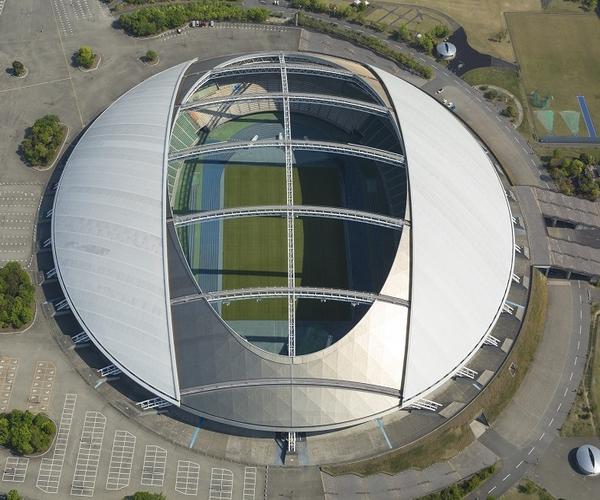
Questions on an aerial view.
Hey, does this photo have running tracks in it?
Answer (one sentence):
Yes, the picture does show a running track.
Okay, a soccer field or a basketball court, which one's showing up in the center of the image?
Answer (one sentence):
It is a soccer field that can be seen in the center of the image.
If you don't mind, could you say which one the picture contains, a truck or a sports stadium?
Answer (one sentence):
It is a sports stadium that can be seen here.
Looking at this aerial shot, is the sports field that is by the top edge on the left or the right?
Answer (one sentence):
The sports field that is by the top edge sits on the right side.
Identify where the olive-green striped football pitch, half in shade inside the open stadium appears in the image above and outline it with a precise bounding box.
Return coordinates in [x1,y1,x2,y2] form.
[222,138,349,353]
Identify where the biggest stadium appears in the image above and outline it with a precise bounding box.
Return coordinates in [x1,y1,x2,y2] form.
[35,47,535,465]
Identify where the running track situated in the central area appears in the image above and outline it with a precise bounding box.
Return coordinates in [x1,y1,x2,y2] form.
[200,123,370,351]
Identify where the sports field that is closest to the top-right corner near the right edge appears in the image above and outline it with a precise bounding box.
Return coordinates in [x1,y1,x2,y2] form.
[504,12,600,145]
